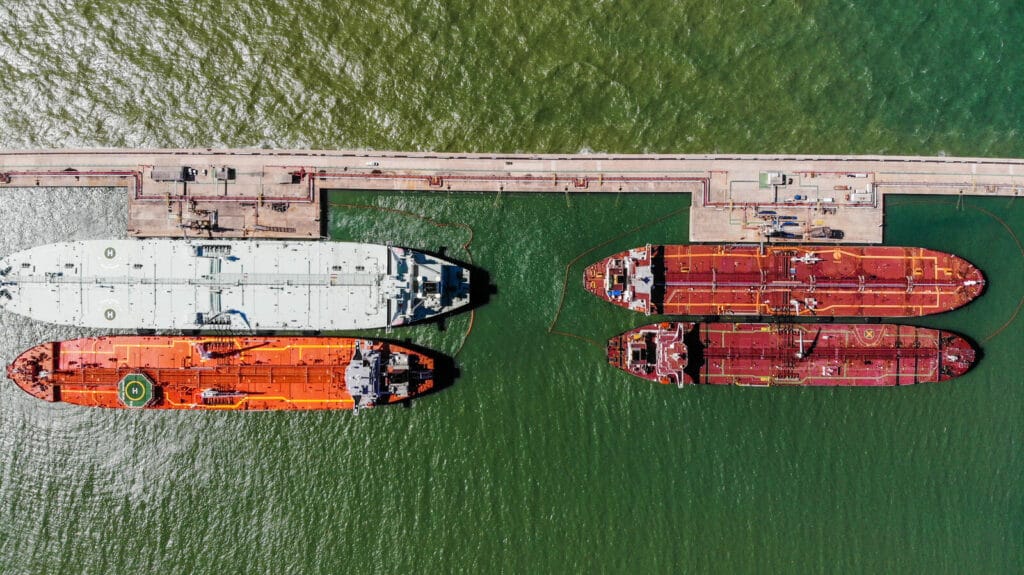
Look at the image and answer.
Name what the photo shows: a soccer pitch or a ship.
ship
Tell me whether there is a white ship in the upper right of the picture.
No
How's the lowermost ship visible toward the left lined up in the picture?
horizontally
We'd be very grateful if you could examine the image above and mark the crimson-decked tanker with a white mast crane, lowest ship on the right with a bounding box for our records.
[608,321,976,388]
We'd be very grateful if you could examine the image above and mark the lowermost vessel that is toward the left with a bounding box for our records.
[6,335,435,415]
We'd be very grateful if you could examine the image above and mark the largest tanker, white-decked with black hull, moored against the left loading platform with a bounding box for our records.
[0,239,469,332]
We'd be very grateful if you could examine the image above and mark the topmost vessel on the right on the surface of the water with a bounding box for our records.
[584,244,986,317]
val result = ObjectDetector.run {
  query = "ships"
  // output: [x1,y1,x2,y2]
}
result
[0,239,469,332]
[584,244,986,317]
[608,321,976,388]
[6,335,435,415]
